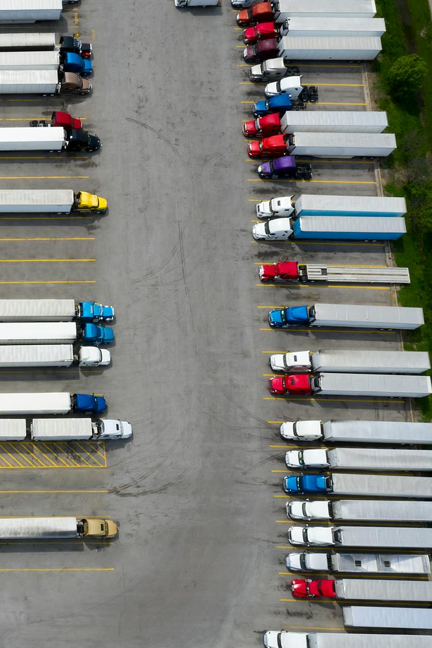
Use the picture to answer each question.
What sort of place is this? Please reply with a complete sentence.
The area seen from above is a parking lot.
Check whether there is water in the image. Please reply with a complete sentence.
No, the scene doesn't show any water.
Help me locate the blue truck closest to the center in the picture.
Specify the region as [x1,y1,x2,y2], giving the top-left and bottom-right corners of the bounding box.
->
[267,306,317,328]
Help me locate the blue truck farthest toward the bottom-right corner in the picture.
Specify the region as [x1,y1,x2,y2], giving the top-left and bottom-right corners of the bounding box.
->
[281,472,329,495]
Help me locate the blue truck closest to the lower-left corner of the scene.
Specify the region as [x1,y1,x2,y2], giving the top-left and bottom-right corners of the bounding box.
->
[51,394,106,415]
